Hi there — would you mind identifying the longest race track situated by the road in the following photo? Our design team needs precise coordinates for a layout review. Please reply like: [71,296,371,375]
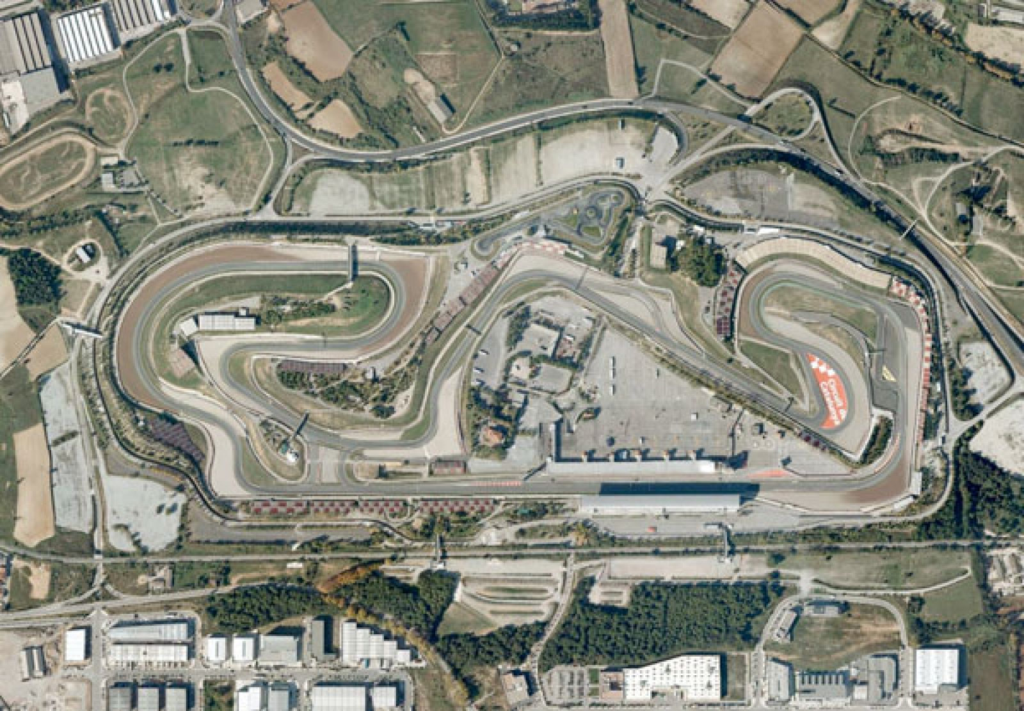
[131,260,906,494]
